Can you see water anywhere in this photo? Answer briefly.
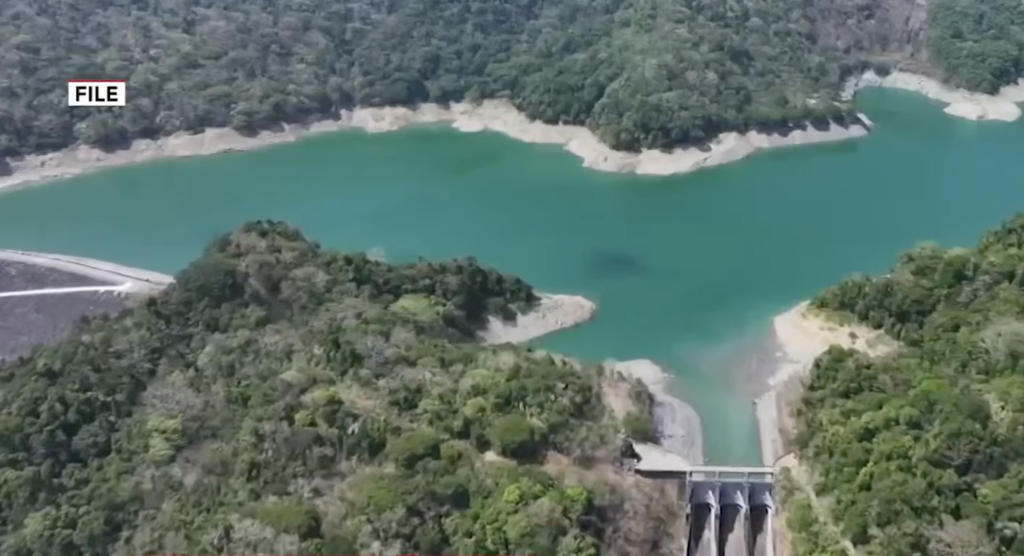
Yes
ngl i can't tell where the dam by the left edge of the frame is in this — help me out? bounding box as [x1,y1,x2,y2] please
[0,242,173,379]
